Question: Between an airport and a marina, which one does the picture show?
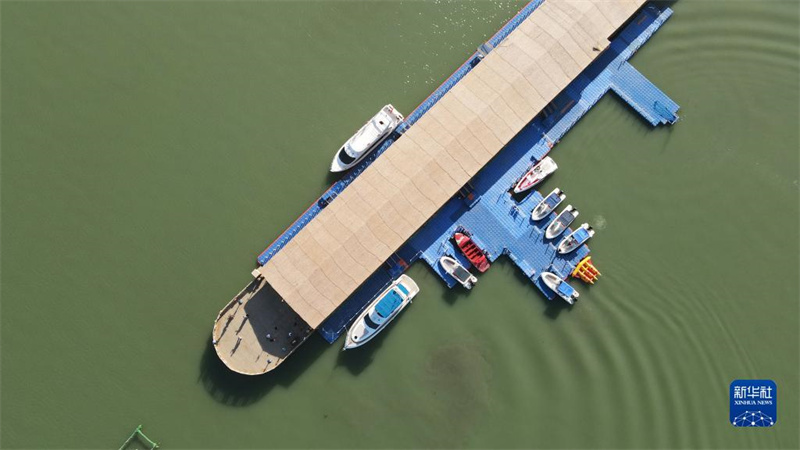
marina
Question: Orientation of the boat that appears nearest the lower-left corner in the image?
at an angle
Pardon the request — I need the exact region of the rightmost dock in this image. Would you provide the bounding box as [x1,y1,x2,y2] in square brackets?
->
[611,67,678,127]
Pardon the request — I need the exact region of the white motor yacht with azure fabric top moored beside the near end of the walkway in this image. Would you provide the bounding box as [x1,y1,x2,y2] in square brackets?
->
[334,274,419,351]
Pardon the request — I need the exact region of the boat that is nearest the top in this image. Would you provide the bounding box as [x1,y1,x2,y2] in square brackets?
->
[330,105,406,174]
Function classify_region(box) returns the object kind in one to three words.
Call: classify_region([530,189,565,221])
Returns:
boat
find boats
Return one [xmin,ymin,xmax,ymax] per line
[439,248,476,288]
[530,189,565,221]
[541,264,578,305]
[334,274,419,351]
[504,156,558,198]
[448,234,489,273]
[542,206,577,239]
[556,223,592,255]
[330,105,406,174]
